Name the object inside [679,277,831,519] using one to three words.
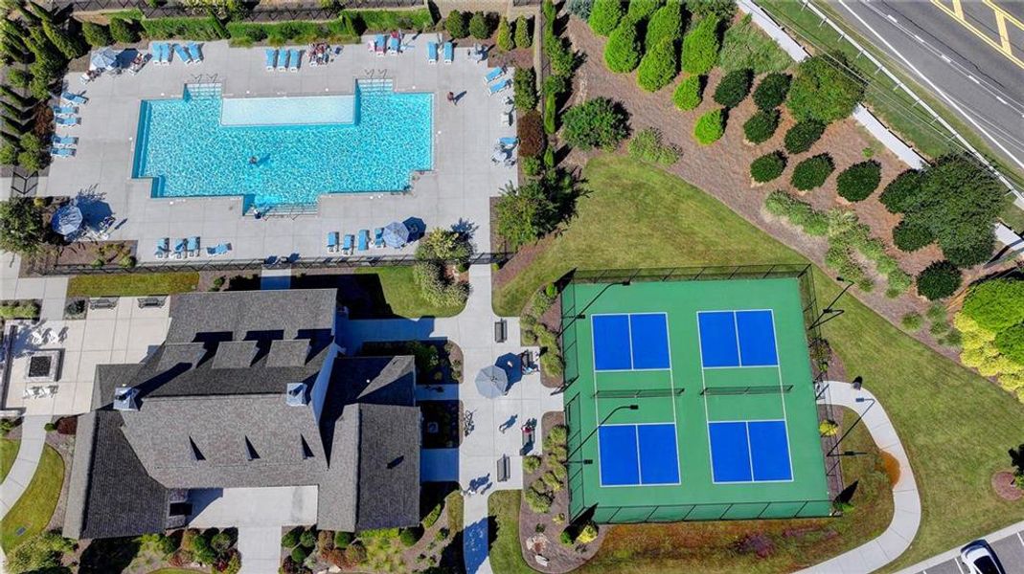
sports court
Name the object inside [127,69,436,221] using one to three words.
swimming pool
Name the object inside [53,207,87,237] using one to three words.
umbrella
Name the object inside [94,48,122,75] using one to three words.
umbrella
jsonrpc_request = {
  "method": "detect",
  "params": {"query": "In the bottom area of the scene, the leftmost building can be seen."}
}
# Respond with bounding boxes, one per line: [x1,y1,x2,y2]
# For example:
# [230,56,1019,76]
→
[62,289,421,543]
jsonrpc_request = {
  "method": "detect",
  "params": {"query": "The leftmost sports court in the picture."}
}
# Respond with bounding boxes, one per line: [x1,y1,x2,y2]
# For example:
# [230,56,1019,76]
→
[560,280,701,522]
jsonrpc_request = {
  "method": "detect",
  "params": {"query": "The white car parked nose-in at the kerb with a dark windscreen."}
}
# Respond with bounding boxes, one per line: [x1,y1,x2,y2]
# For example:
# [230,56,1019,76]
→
[965,545,1006,574]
